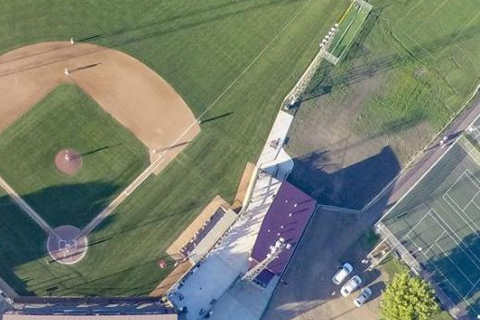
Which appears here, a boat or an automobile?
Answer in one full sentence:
It is an automobile that can be seen here.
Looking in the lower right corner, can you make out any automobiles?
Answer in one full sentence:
Yes, in the lower right corner there is an automobile.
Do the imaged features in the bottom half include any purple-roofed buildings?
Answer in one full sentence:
Yes, you'll find a purple-roofed building in the bottom half.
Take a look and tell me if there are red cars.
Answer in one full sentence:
No, there is no red car in the image.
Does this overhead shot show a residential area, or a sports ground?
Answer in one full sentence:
What you see here is a sports ground.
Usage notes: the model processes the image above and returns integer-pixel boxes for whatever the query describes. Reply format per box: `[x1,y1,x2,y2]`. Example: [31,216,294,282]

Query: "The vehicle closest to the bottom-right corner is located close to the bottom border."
[354,288,372,309]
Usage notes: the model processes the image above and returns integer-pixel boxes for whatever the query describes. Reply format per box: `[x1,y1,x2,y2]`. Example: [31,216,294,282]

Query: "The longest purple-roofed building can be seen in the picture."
[241,181,317,279]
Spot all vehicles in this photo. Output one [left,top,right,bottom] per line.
[354,288,372,309]
[341,276,361,298]
[332,264,353,286]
